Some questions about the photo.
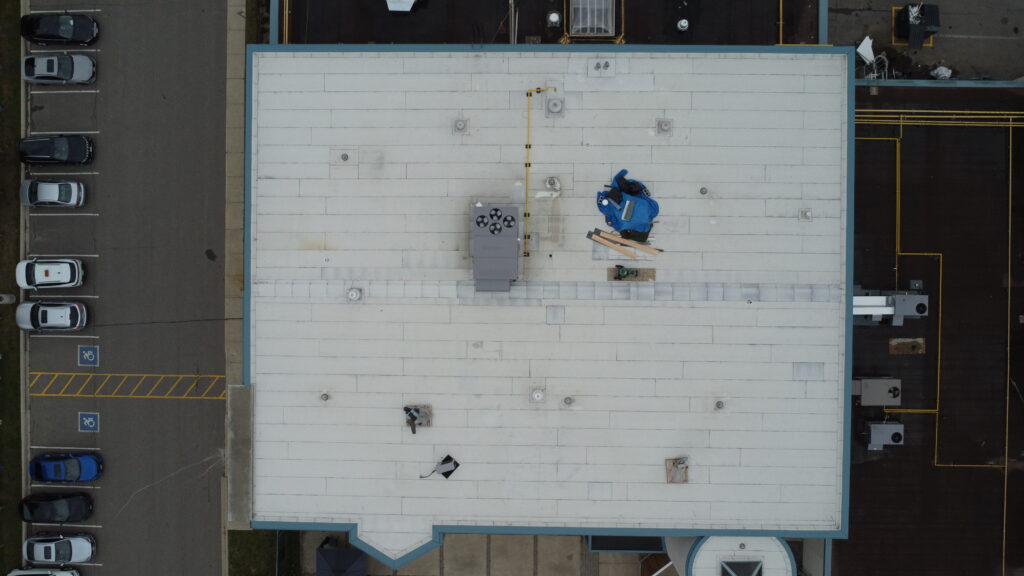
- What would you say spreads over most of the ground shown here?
buildings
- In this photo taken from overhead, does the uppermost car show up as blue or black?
black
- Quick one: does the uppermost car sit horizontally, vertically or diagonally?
horizontally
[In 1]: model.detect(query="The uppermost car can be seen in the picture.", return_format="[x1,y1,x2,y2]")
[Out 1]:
[20,11,98,48]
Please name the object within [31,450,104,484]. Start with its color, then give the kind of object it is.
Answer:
blue car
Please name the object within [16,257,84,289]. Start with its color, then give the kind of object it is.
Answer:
white car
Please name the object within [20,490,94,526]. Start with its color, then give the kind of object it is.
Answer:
black car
